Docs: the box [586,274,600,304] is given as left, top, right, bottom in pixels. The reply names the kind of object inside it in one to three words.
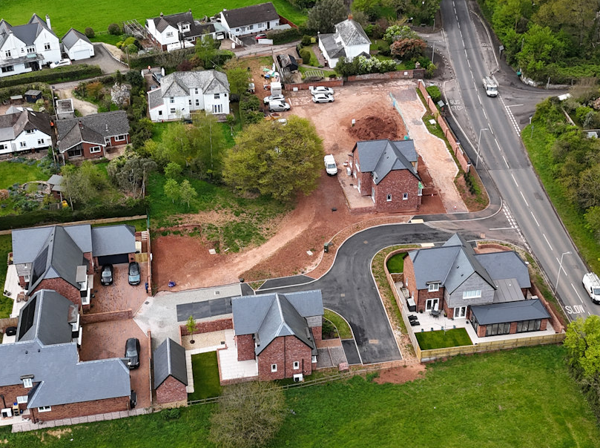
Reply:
vehicle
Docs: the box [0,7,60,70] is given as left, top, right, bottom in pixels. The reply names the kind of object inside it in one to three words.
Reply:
house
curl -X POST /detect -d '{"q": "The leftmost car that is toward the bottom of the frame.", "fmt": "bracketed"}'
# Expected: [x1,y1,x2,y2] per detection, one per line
[98,266,113,287]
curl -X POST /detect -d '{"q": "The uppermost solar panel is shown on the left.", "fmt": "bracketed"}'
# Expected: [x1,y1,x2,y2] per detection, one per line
[33,249,50,281]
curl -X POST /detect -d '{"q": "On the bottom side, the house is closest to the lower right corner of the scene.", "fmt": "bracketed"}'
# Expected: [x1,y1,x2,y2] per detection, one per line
[407,219,552,336]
